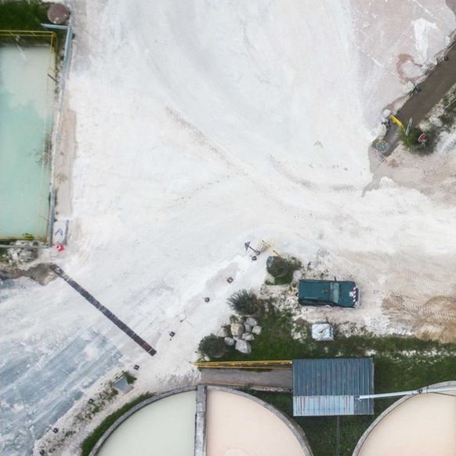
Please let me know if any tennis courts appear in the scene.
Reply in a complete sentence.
No, no tennis court is visible in the view.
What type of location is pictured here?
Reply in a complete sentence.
This image shows an industrial area.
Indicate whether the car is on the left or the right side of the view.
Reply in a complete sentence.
It is on the right.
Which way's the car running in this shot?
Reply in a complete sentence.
What the image shows is the car lying from left to right.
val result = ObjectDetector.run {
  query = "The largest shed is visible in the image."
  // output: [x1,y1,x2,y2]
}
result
[291,358,380,416]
